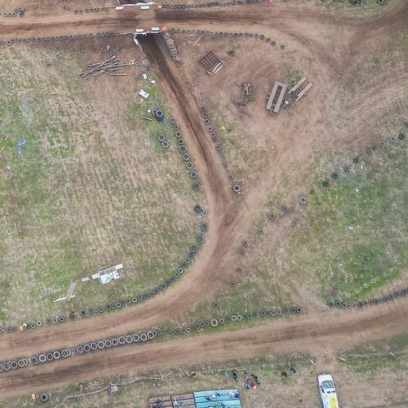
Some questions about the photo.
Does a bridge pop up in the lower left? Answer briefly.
No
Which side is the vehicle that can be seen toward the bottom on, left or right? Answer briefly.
right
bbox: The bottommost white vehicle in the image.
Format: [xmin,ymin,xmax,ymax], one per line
[317,369,344,408]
